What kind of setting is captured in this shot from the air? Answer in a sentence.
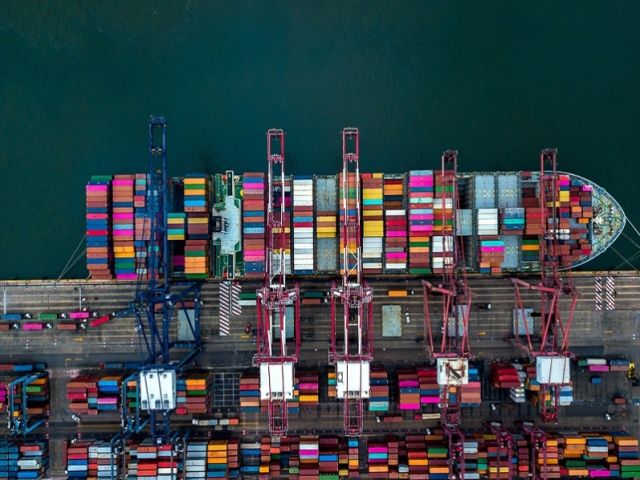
What you see here is a port.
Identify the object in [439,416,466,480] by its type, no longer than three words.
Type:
container crane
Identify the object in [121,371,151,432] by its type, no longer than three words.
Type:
container crane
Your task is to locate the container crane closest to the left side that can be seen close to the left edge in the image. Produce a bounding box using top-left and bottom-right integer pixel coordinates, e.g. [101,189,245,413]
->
[8,370,49,434]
